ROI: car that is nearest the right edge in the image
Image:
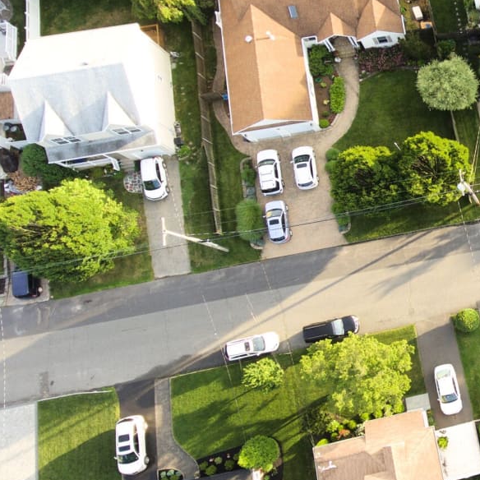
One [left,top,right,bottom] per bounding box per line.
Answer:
[434,363,462,417]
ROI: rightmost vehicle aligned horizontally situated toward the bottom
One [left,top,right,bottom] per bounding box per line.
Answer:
[301,315,362,346]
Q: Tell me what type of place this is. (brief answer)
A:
residential area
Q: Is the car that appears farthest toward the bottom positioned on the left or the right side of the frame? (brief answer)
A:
left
